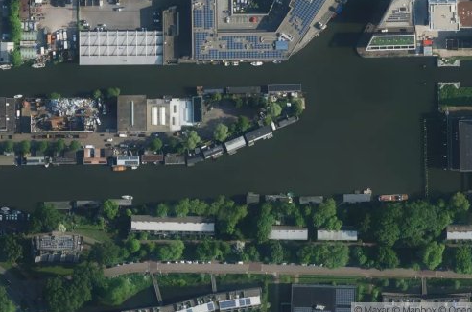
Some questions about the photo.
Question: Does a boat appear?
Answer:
Yes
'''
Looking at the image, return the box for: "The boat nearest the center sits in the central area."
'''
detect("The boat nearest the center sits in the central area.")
[224,136,246,155]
